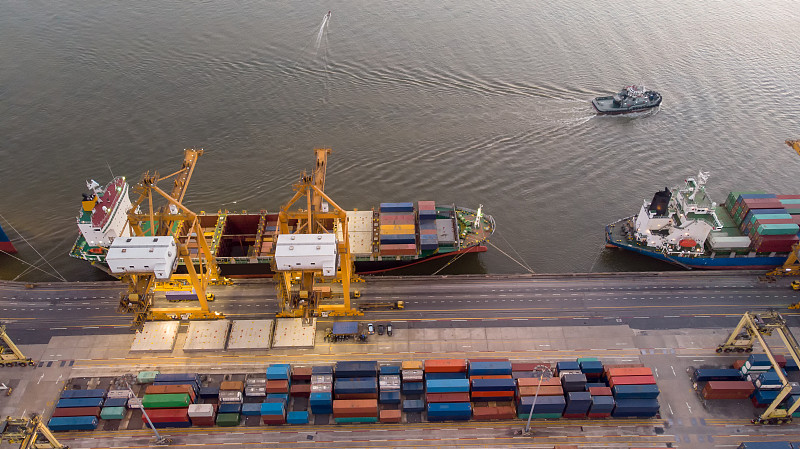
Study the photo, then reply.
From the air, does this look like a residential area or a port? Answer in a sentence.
The picture captures a port.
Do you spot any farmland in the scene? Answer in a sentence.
No, no farmland is visible.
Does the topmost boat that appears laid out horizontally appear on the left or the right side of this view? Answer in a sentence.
The topmost boat that appears laid out horizontally is on the right side of the image.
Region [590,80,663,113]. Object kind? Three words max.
boat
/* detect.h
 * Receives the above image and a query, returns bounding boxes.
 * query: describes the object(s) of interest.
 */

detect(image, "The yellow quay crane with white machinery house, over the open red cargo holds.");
[264,147,373,325]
